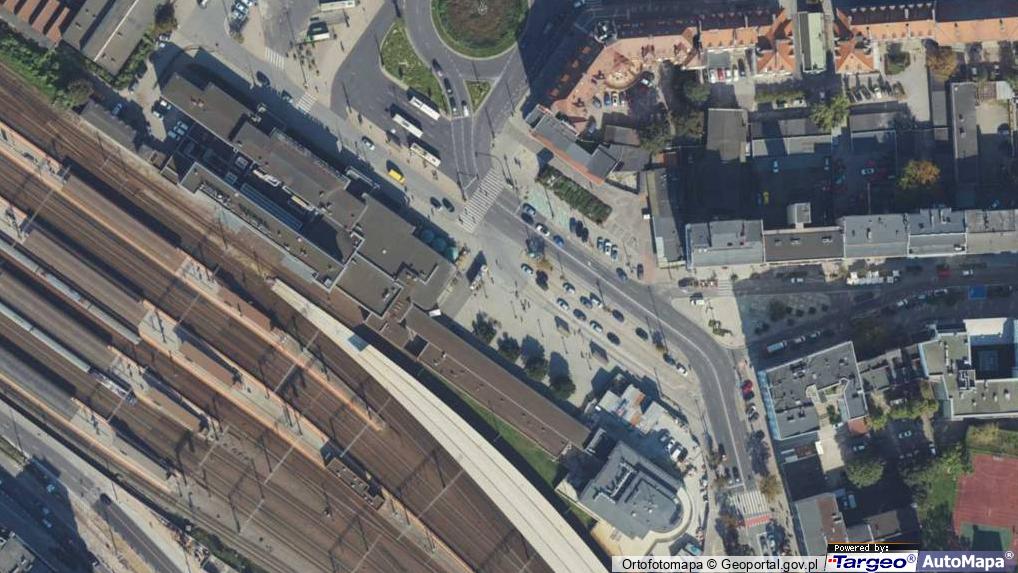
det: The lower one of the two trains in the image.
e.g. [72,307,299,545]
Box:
[0,301,134,404]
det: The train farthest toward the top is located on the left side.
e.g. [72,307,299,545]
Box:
[0,236,141,343]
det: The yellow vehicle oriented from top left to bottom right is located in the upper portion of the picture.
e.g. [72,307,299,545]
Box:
[387,167,406,183]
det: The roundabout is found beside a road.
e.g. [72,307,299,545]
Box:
[401,0,560,90]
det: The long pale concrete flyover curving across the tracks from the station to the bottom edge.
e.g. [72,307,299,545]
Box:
[256,271,608,573]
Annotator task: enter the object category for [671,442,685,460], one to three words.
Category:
vehicle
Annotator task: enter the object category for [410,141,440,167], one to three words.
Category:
bus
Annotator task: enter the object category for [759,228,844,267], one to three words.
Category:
house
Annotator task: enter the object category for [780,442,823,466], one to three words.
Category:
building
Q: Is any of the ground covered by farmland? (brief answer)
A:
No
